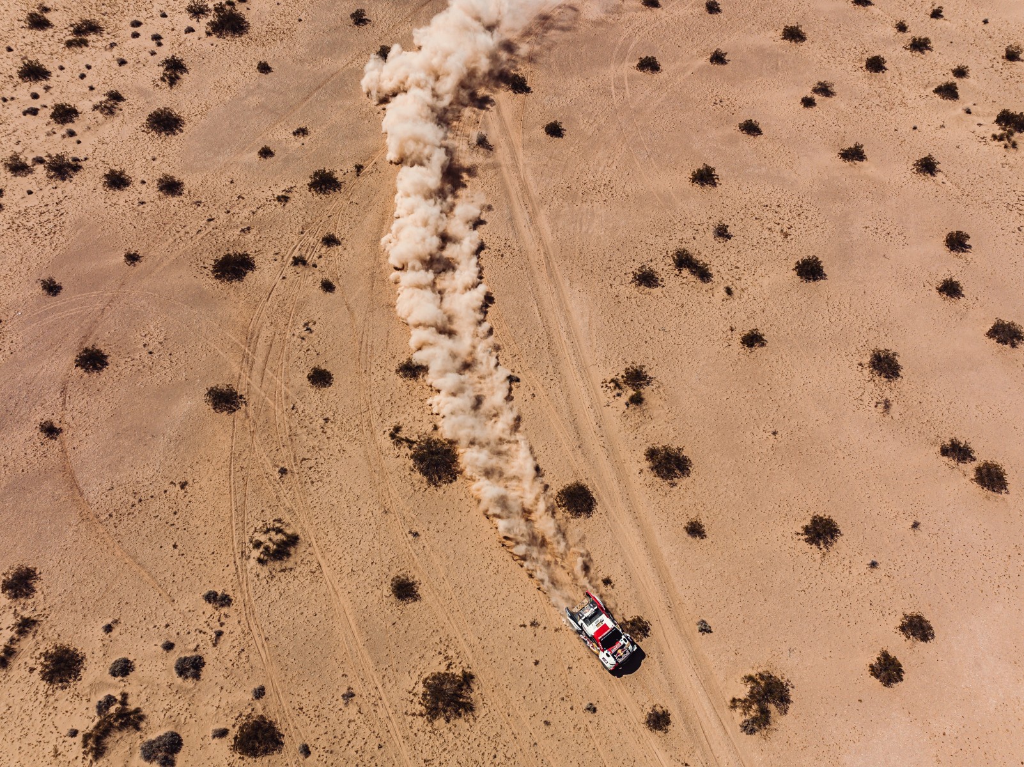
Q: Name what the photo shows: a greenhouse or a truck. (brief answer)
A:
truck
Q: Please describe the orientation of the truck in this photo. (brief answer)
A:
on a diagonal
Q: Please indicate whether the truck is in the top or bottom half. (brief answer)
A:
bottom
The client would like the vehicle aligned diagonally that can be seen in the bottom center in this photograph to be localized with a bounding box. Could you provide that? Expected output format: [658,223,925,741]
[566,591,639,673]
